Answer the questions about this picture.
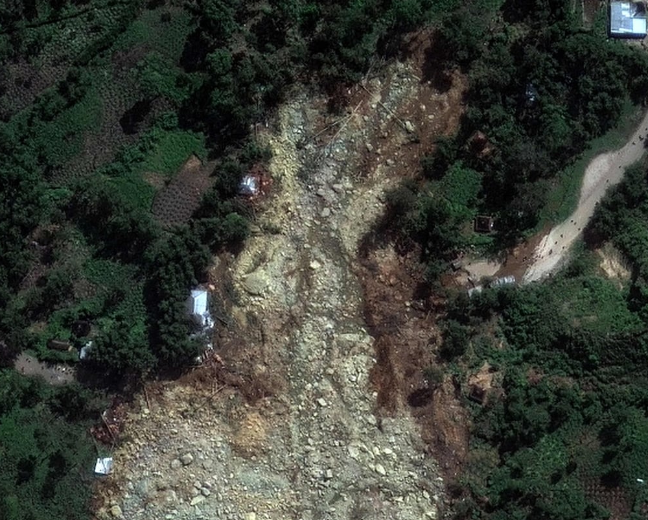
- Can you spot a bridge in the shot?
No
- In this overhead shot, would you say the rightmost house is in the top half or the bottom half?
top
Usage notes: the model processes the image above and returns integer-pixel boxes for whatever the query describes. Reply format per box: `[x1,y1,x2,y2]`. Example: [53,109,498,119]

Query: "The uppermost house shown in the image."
[612,0,648,32]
